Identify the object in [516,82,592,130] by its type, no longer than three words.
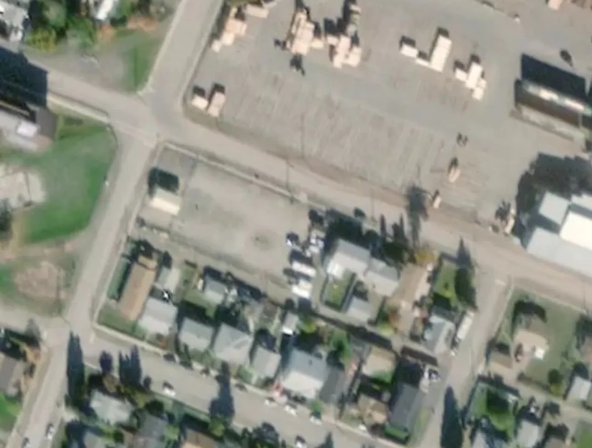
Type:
shed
